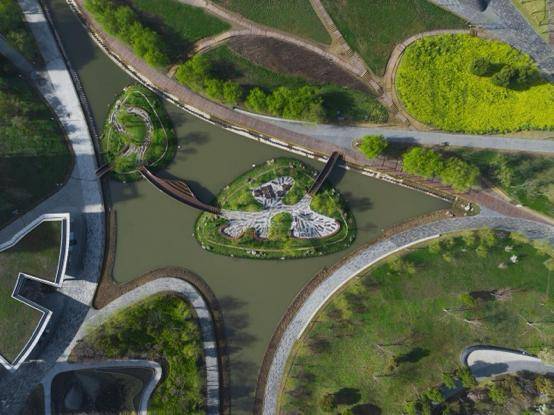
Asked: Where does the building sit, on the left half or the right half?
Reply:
left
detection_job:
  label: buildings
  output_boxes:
[0,213,77,370]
